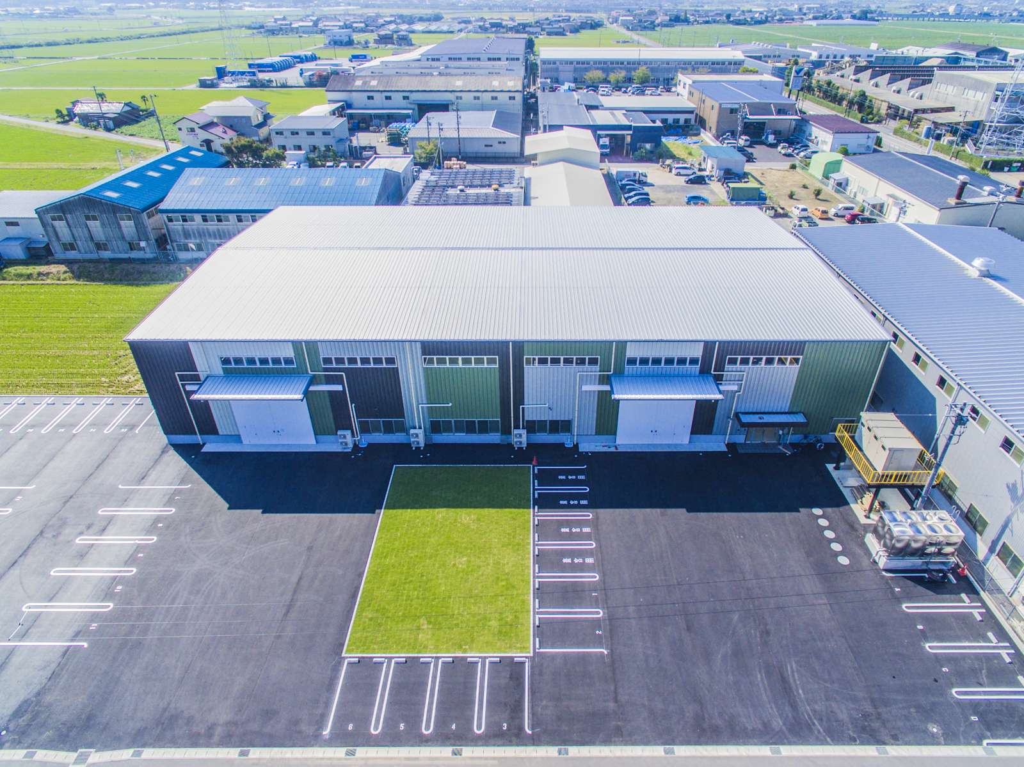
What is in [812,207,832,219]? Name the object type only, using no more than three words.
vehicle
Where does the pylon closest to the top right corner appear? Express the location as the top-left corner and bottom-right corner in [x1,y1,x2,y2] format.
[956,2,1024,153]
